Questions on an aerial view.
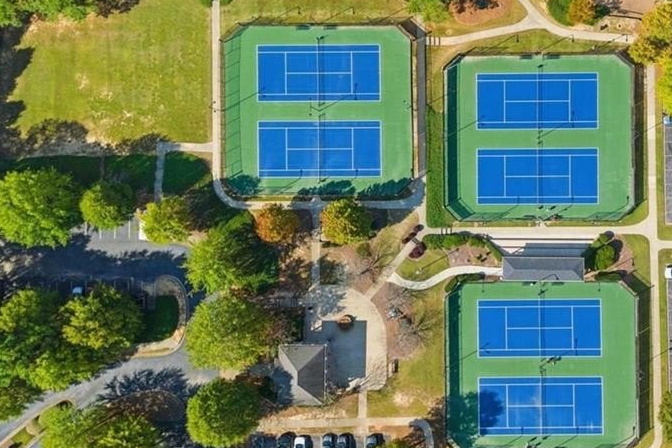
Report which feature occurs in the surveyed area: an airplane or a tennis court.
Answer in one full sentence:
It is a tennis court that can be seen here.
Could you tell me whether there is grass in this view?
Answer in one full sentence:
Yes, grass shows up in the scene.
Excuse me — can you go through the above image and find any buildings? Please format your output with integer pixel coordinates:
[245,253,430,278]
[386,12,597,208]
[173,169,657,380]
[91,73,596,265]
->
[279,336,334,405]
[502,254,585,281]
